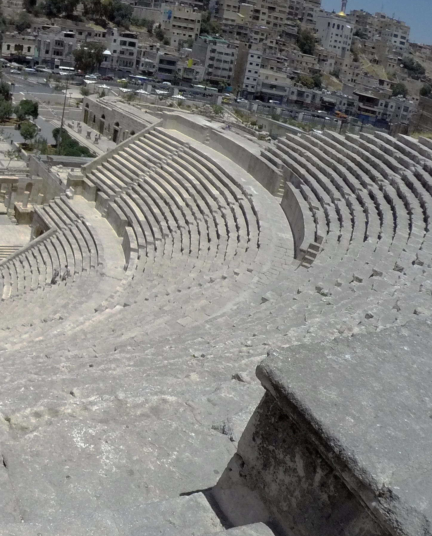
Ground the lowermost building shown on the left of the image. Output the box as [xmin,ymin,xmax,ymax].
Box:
[85,98,174,144]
